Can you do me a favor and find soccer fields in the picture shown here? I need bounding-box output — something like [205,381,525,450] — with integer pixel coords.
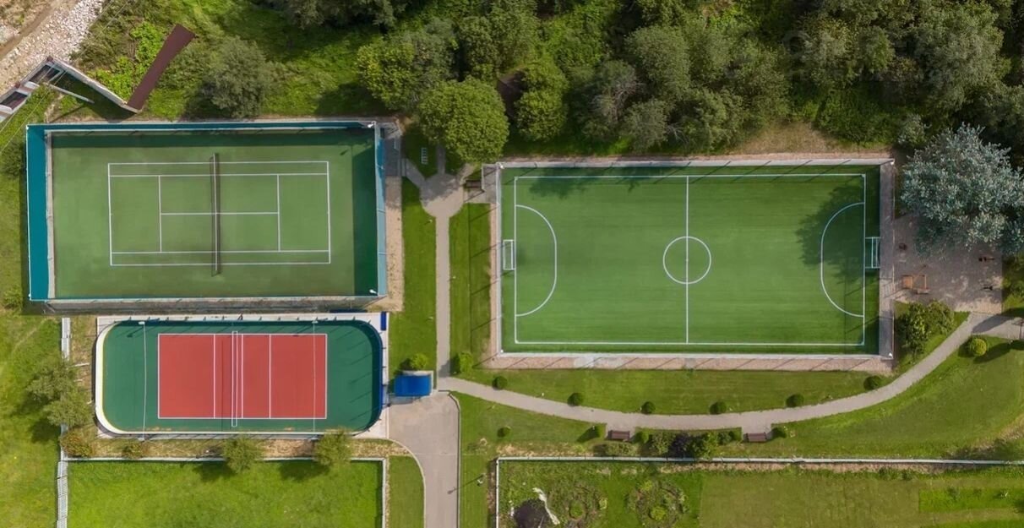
[499,163,882,357]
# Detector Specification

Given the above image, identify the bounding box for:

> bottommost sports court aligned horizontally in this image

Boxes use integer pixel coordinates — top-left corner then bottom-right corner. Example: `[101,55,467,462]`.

[103,322,378,432]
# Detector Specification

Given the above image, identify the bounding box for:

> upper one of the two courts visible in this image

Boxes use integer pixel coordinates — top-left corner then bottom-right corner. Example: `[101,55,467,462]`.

[48,131,385,296]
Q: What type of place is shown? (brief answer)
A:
sports ground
